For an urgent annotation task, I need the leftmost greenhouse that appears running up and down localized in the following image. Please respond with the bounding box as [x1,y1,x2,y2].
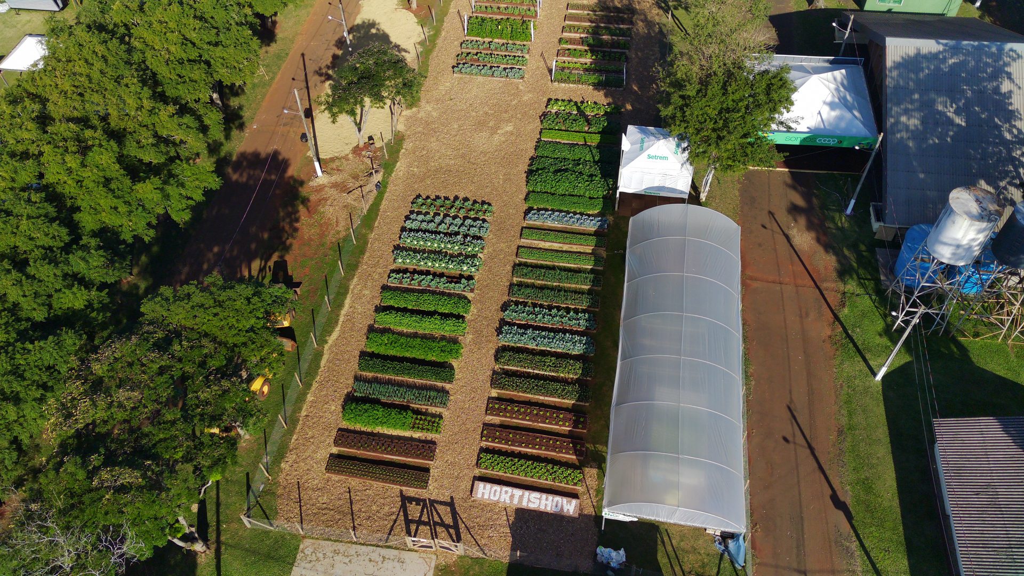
[600,202,746,537]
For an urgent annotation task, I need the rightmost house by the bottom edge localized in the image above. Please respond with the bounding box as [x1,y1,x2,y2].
[924,419,1024,576]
